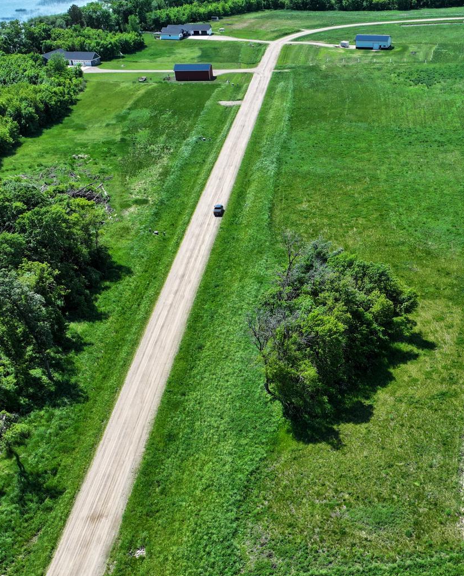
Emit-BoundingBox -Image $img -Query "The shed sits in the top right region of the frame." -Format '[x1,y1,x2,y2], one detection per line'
[355,32,390,50]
